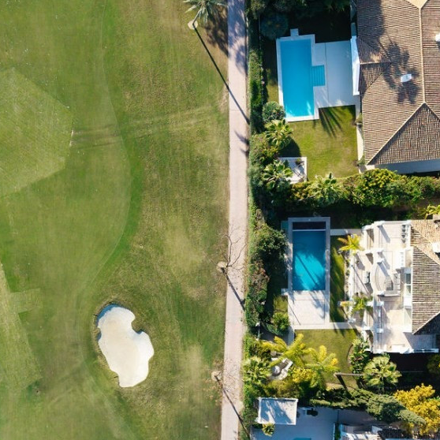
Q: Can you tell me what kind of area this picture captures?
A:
golf course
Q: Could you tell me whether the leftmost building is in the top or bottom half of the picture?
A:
bottom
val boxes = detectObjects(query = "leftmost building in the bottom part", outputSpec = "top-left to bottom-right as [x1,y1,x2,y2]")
[254,398,298,425]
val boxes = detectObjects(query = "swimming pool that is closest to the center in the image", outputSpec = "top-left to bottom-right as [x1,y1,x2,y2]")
[289,217,331,294]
